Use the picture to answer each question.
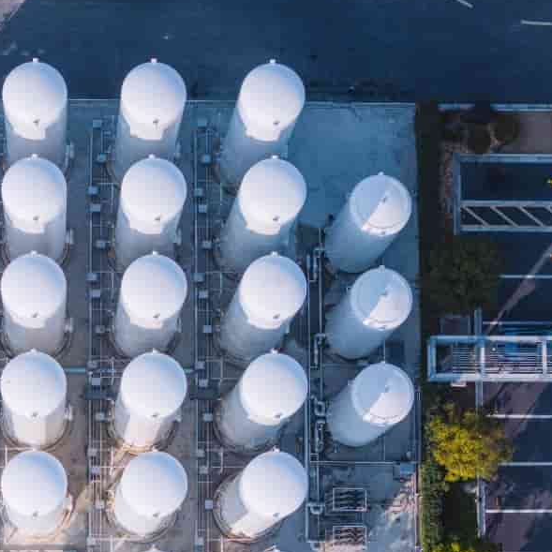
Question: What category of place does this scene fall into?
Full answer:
This looks like an industrial area.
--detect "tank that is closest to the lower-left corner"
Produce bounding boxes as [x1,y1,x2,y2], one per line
[0,447,73,552]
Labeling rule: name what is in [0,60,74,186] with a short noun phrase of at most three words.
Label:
storage tank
